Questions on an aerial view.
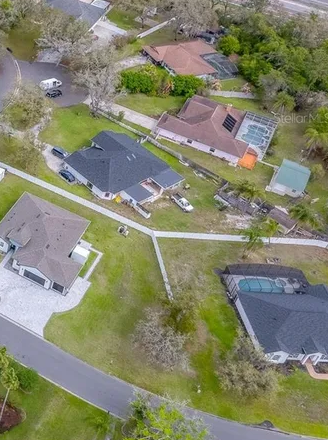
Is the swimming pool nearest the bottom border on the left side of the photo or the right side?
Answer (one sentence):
The swimming pool nearest the bottom border sits on the right side.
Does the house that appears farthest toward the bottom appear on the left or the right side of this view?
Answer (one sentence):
It is on the right.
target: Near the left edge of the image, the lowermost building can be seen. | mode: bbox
[0,191,90,303]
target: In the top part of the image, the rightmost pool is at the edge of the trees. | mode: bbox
[235,120,274,168]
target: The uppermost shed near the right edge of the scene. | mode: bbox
[273,154,314,200]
